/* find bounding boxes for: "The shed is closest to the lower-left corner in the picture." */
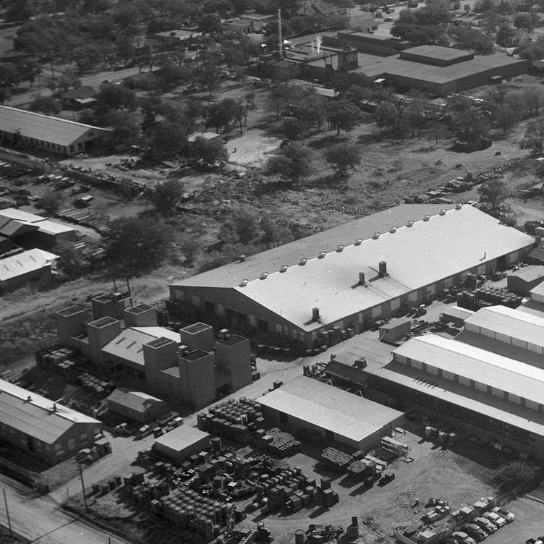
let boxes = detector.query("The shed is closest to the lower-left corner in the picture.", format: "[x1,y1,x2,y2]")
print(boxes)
[0,376,103,464]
